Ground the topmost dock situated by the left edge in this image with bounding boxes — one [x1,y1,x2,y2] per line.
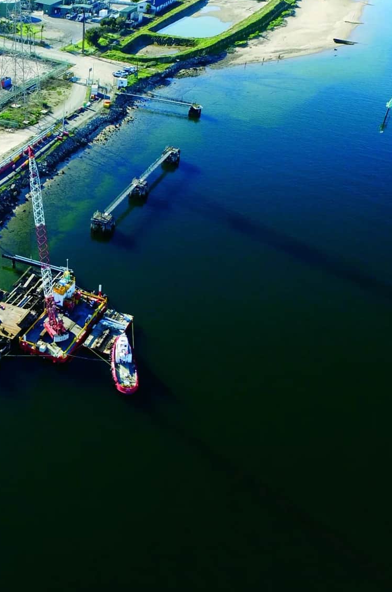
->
[4,256,74,280]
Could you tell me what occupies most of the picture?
water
